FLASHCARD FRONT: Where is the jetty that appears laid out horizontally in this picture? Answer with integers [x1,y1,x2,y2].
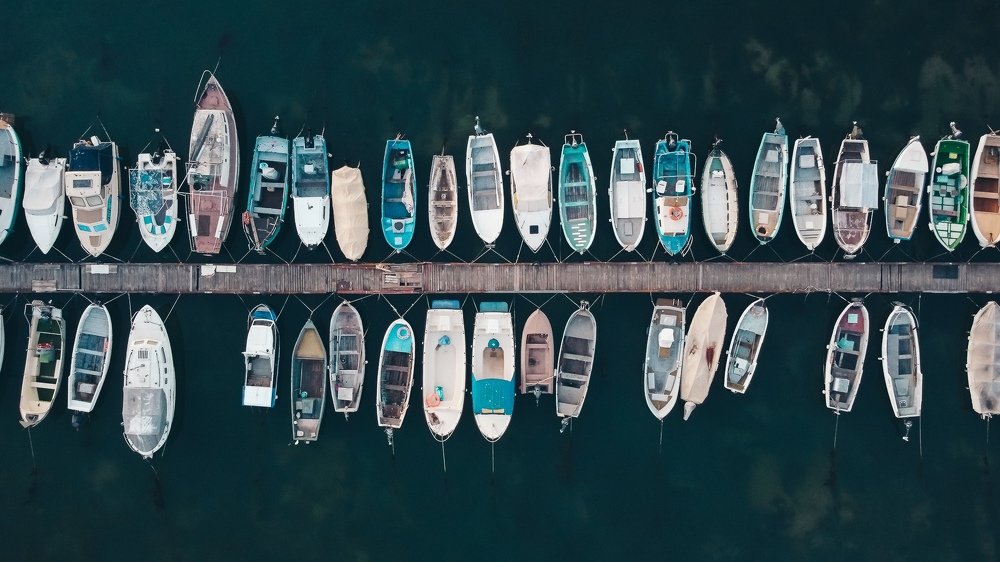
[0,262,1000,294]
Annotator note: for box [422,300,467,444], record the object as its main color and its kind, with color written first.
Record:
white boat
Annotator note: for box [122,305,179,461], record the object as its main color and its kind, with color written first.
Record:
white boat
